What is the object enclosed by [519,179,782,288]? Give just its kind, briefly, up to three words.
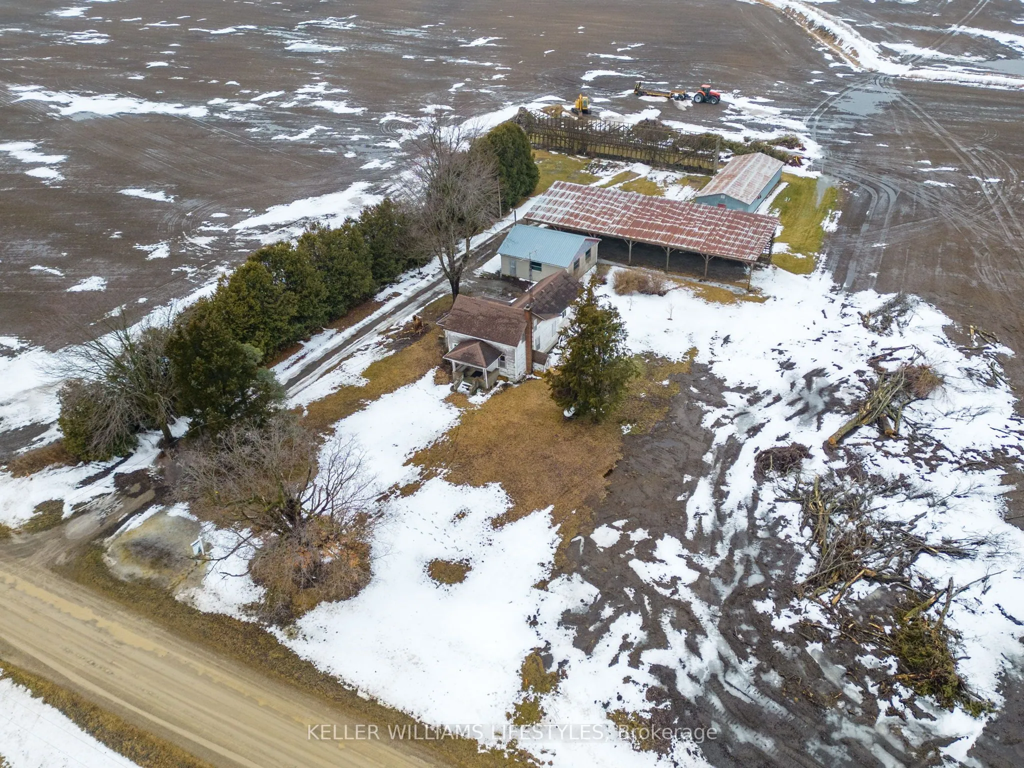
shed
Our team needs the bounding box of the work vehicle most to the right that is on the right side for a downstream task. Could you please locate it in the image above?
[696,85,724,105]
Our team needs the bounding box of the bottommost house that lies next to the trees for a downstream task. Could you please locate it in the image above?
[434,268,586,394]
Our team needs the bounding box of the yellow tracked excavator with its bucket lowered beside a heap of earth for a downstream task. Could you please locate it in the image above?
[573,87,591,116]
